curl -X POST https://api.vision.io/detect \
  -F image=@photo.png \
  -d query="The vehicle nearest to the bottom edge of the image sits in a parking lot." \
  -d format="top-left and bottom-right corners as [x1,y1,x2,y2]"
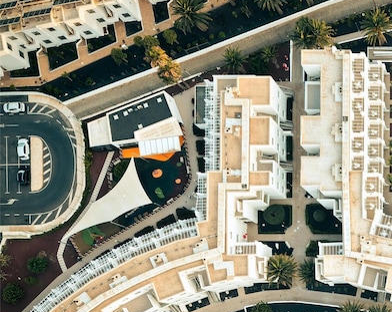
[15,161,28,184]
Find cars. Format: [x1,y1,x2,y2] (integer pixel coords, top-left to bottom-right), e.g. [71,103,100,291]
[15,161,28,184]
[1,100,23,112]
[15,137,28,159]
